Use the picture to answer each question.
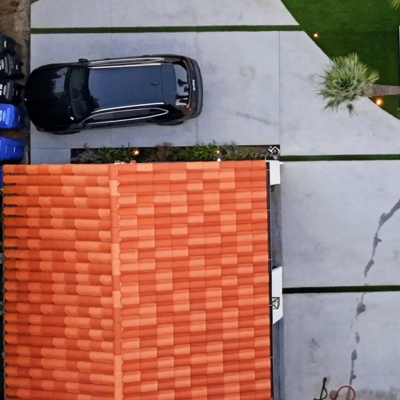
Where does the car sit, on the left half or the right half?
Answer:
left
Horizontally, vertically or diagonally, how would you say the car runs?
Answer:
horizontally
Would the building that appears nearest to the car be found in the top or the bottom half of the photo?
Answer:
bottom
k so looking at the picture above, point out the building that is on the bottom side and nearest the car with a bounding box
[0,156,283,400]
